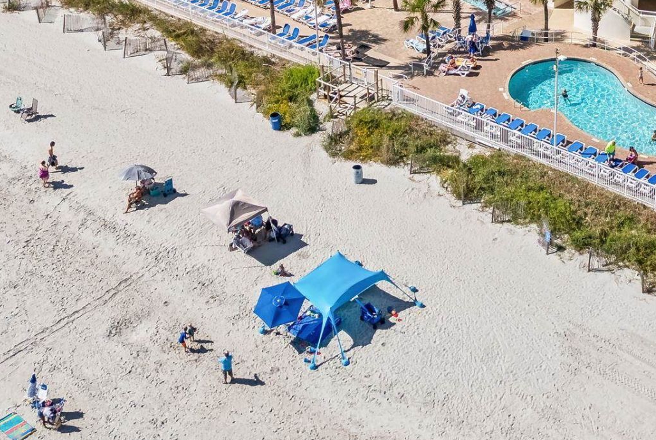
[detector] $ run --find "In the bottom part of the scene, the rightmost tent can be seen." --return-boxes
[288,252,423,367]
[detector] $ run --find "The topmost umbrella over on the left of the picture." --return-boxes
[116,170,155,193]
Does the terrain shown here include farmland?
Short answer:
No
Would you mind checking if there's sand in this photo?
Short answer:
Yes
